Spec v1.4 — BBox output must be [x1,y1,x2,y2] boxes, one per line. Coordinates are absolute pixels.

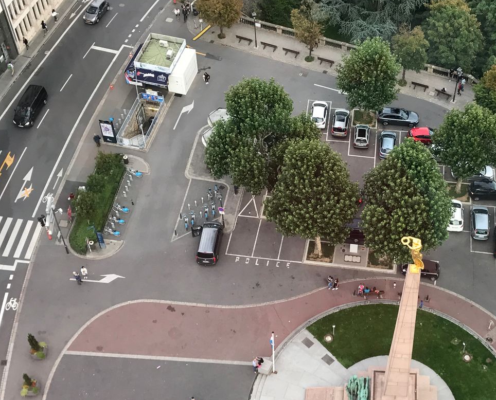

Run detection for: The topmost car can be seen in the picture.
[80,0,113,26]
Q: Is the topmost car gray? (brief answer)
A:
Yes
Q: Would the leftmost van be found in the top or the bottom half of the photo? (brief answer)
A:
top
